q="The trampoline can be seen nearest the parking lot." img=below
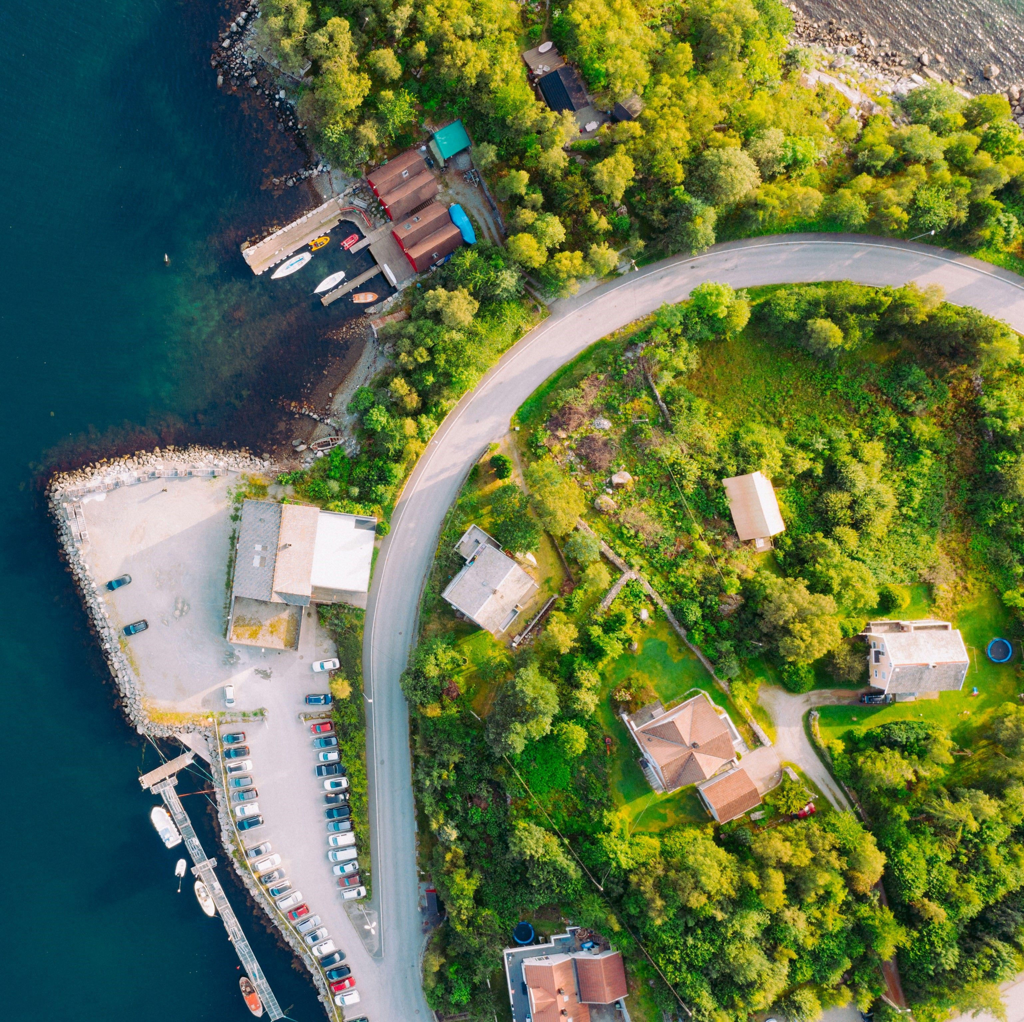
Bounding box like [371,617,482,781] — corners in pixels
[512,922,535,944]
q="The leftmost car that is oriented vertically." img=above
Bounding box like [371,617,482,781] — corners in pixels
[224,683,236,708]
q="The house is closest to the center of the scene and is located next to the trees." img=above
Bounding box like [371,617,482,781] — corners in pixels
[441,524,553,634]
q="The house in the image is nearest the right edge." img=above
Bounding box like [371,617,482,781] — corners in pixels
[868,620,970,702]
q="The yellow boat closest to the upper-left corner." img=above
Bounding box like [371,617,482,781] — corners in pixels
[307,236,331,253]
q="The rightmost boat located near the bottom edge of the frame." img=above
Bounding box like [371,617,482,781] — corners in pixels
[243,977,261,1017]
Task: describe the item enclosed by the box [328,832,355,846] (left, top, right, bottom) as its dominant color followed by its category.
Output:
white vehicle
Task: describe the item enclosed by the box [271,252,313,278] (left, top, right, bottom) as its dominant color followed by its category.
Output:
white boat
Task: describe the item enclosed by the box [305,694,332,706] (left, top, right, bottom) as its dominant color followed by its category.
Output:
blue vehicle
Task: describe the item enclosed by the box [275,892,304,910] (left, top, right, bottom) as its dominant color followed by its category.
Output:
white car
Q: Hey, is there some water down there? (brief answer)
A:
Yes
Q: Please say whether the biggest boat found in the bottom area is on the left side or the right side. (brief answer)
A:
left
